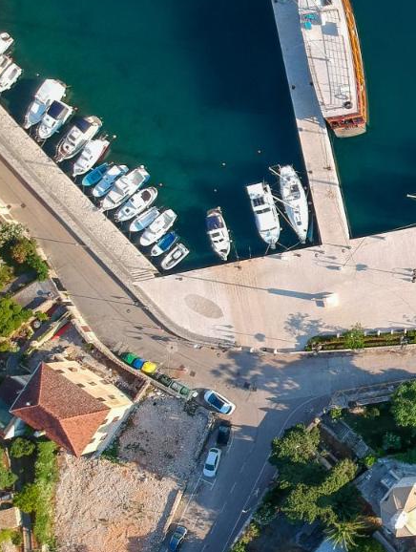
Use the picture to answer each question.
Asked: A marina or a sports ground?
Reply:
marina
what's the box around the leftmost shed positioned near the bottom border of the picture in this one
[0,505,34,531]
